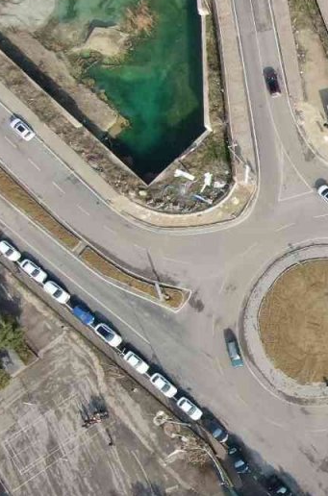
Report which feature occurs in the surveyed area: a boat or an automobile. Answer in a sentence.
There is an automobile in the scene.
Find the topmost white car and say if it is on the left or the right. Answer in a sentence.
You can find the topmost white car on the left side of the picture.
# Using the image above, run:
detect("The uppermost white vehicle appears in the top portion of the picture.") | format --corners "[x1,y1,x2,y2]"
[11,120,36,141]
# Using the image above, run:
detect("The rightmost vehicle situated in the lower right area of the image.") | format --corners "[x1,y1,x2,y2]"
[266,478,292,496]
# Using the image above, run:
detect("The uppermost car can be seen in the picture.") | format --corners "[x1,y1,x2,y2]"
[263,68,279,95]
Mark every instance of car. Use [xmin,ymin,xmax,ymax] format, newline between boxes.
[175,395,203,422]
[226,341,243,366]
[225,447,251,474]
[0,239,23,263]
[18,258,48,283]
[202,418,229,444]
[70,304,96,327]
[41,280,71,305]
[123,349,150,375]
[266,478,292,496]
[11,120,36,141]
[95,323,121,347]
[149,371,178,399]
[263,68,279,95]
